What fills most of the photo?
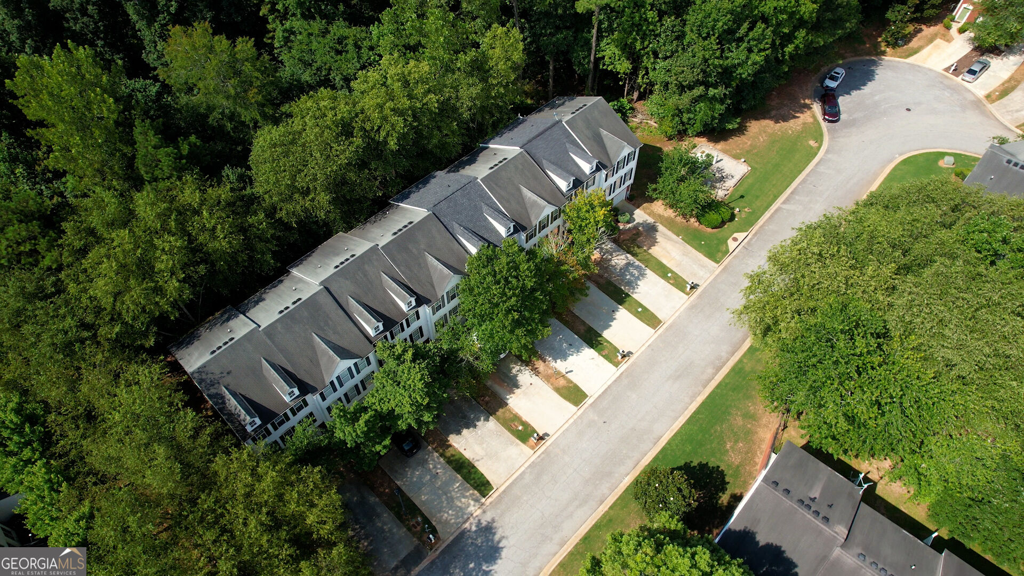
trees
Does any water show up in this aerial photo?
No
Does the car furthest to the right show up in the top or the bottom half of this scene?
top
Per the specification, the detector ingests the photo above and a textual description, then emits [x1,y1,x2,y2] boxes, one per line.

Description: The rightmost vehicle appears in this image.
[965,61,990,82]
